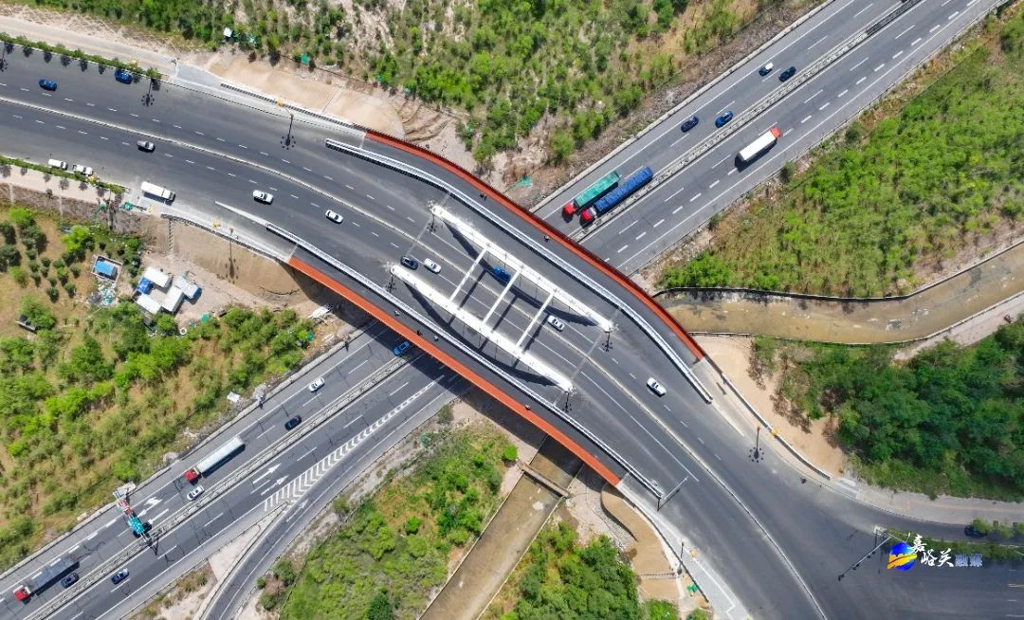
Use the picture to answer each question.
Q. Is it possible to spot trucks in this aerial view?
Yes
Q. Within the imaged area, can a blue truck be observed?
Yes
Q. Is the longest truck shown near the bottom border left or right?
left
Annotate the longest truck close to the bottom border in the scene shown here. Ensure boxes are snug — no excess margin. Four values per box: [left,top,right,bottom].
[17,553,82,599]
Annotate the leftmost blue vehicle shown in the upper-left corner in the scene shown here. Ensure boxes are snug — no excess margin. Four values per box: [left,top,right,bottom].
[35,77,56,89]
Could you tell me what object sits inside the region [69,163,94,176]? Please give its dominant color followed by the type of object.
white vehicle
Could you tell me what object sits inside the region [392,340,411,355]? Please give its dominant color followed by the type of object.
blue car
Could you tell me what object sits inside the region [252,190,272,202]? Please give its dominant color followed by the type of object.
white vehicle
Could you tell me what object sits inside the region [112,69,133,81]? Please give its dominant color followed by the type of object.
blue vehicle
